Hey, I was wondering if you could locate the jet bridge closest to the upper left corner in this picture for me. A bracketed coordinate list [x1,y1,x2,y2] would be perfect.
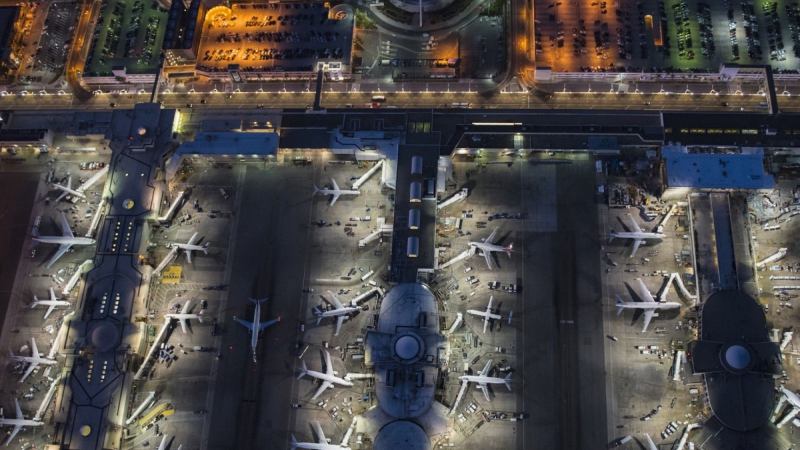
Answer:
[75,162,109,195]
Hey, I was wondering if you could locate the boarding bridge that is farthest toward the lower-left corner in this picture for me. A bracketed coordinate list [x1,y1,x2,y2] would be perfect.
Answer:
[33,370,67,421]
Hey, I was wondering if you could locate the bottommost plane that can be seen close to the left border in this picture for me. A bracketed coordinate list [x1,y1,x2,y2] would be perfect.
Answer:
[0,395,45,447]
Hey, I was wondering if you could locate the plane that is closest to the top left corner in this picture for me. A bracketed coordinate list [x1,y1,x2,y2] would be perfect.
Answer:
[51,176,86,201]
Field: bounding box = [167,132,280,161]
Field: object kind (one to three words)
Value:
building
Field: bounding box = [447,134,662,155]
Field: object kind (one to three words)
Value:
building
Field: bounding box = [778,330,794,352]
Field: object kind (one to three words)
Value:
jet bridge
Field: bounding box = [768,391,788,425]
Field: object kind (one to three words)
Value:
jet bridge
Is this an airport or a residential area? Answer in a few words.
airport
